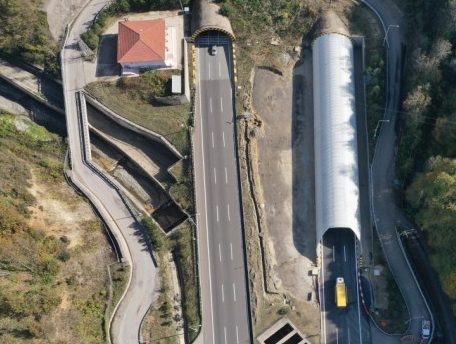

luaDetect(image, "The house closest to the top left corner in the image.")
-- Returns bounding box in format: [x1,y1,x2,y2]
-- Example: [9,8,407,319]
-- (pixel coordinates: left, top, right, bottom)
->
[118,19,177,78]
